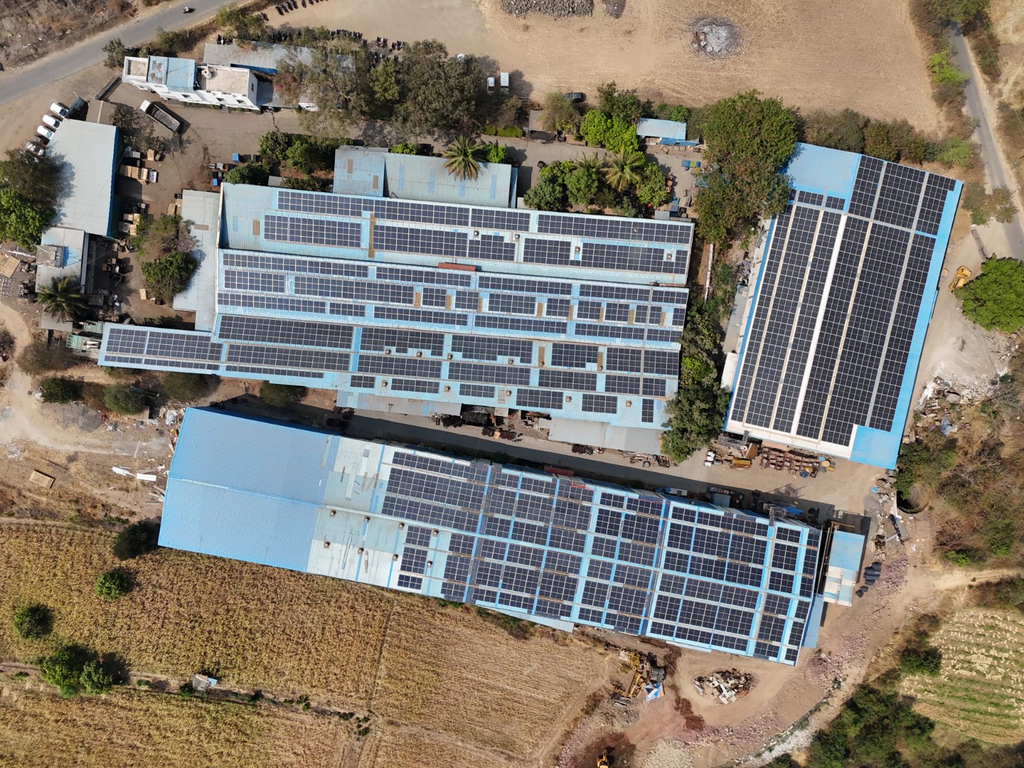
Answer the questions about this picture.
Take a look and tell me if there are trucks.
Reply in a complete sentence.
Yes, there is a truck in the image.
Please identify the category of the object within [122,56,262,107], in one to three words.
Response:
building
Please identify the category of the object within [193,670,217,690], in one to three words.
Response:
shed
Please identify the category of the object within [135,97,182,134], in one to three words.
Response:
truck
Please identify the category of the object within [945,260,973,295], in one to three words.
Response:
work vehicle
